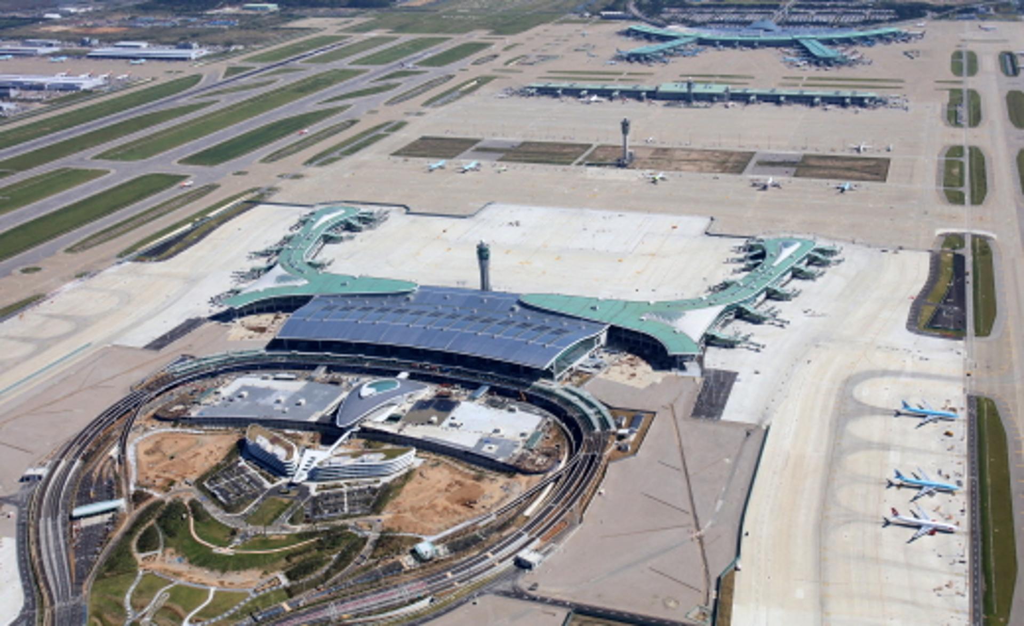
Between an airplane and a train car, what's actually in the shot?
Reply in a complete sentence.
Visible in the photo is an airplane.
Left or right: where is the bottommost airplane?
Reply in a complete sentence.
The bottommost airplane sits on the right side.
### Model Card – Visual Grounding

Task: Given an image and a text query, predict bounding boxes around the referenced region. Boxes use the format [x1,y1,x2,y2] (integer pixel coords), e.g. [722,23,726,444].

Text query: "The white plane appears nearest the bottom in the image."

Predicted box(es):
[885,500,961,539]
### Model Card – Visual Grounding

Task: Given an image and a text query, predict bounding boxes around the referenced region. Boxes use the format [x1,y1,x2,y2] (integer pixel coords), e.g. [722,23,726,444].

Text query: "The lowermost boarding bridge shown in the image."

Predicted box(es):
[707,330,758,351]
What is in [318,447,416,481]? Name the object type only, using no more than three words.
building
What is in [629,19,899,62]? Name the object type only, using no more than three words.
building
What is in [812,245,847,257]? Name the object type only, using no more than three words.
jet bridge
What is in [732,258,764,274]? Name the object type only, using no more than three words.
jet bridge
